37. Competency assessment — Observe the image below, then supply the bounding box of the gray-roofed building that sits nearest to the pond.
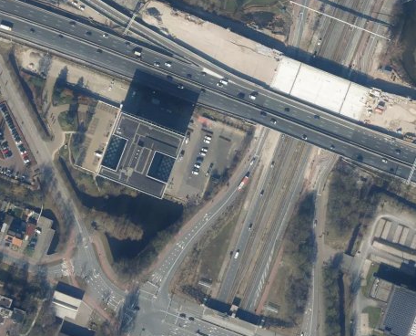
[97,113,185,202]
